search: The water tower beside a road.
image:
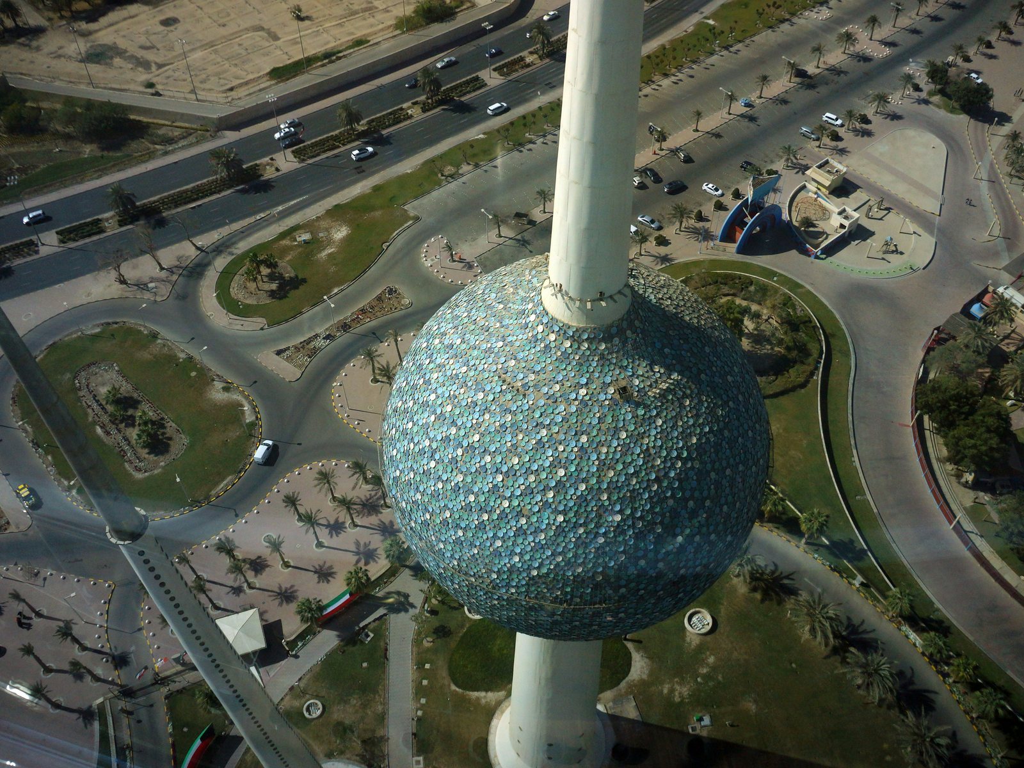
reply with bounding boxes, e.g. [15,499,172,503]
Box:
[375,0,779,768]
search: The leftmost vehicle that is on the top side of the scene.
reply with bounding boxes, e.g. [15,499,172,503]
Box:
[17,207,46,224]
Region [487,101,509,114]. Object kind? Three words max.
vehicle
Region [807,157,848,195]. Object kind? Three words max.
building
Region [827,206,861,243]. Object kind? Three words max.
building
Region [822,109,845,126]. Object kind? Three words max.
car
